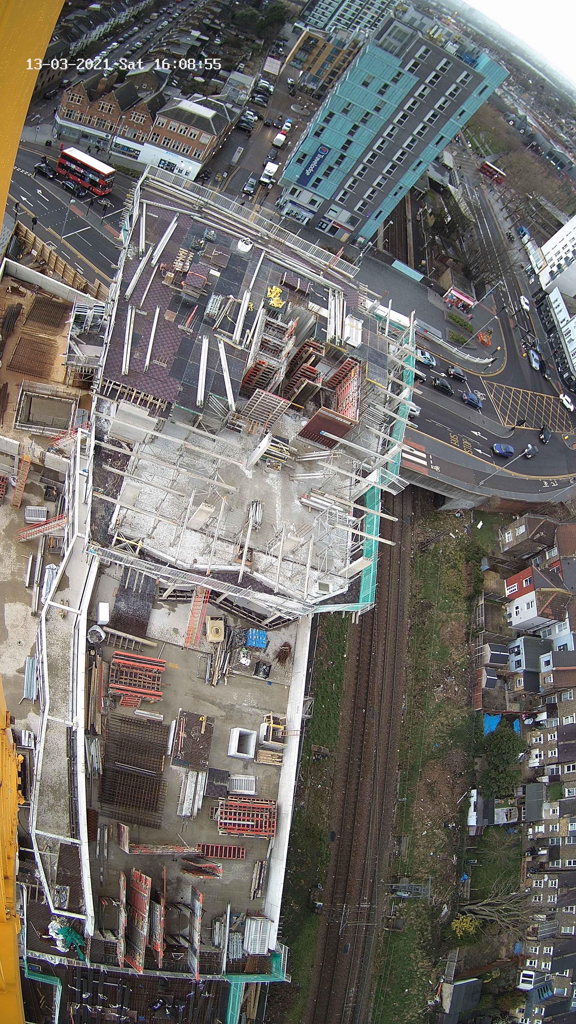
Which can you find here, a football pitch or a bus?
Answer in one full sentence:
The image shows a bus.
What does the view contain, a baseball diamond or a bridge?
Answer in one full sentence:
It is a bridge that can be seen here.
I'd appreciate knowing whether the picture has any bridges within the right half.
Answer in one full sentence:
Yes, the scene does show a bridge within the right half.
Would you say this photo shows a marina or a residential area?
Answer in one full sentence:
It's a residential area.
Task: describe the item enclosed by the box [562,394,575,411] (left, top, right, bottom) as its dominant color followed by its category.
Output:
white vehicle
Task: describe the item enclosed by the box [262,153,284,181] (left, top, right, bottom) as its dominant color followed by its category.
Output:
white vehicle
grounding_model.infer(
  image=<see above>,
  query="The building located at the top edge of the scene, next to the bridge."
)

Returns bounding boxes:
[278,21,507,250]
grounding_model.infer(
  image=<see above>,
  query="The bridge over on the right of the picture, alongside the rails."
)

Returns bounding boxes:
[378,331,495,515]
